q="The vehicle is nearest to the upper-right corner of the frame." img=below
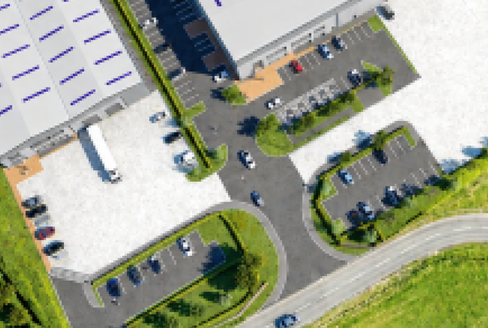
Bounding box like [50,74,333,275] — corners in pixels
[380,0,395,18]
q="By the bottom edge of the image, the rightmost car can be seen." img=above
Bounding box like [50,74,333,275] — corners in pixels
[275,313,303,328]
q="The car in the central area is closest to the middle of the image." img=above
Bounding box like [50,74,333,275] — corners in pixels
[242,151,256,169]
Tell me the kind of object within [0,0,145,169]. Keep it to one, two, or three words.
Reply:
warehouse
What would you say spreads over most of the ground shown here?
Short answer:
paved ground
